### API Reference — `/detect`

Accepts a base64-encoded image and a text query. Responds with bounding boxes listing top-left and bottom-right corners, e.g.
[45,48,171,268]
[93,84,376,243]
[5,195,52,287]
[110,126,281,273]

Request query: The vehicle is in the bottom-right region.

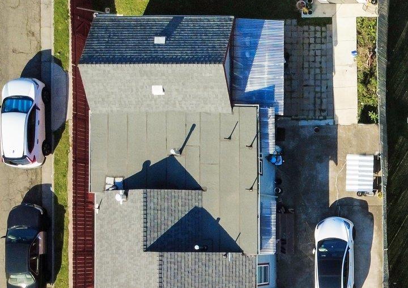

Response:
[313,217,357,288]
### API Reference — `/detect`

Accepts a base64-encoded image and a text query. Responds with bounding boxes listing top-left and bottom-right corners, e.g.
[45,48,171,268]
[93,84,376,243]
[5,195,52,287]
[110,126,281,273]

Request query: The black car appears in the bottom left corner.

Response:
[6,204,52,288]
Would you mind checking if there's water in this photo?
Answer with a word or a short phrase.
No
